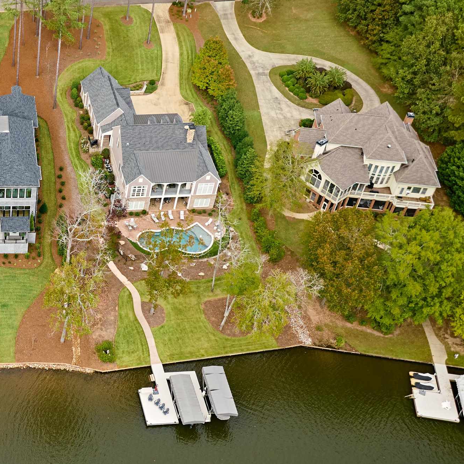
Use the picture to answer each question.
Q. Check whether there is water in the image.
Yes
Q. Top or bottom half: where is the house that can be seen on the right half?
top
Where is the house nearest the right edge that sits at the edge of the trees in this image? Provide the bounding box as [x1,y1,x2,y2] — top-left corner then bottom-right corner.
[289,98,441,221]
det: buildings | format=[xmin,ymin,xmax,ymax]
[289,98,441,221]
[81,76,223,212]
[0,84,43,220]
